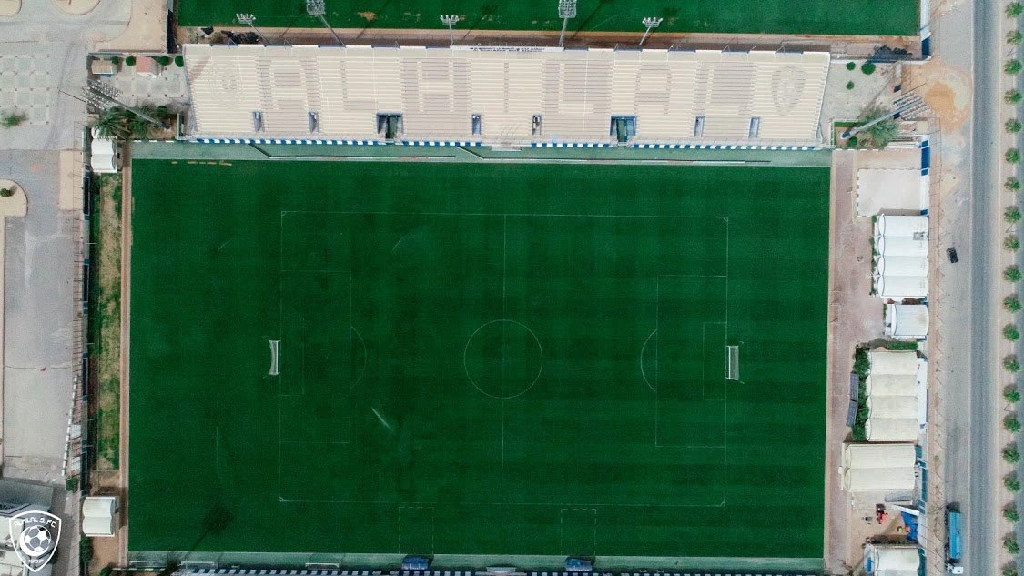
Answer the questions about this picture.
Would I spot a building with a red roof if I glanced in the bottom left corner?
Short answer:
No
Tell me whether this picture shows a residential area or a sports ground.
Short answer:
sports ground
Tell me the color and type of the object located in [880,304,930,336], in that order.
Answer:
white tent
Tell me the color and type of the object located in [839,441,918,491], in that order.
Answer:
white tent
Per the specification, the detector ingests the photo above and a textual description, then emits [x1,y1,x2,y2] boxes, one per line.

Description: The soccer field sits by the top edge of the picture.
[179,0,920,35]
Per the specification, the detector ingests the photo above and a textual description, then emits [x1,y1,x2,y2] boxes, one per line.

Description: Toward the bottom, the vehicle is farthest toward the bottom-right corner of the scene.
[943,502,964,575]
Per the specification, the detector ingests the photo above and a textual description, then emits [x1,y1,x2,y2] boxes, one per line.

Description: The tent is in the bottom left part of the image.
[81,495,124,537]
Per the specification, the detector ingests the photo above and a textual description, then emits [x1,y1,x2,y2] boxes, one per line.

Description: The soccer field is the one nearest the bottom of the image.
[128,161,831,558]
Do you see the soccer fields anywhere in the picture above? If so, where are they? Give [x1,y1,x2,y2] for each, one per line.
[128,161,831,558]
[179,0,920,35]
